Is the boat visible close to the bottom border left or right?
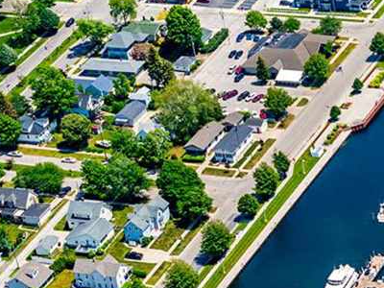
right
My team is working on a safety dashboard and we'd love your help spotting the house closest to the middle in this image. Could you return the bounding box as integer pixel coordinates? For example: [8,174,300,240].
[186,120,227,158]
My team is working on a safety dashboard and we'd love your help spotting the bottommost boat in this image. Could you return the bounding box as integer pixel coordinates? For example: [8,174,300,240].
[320,250,362,288]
